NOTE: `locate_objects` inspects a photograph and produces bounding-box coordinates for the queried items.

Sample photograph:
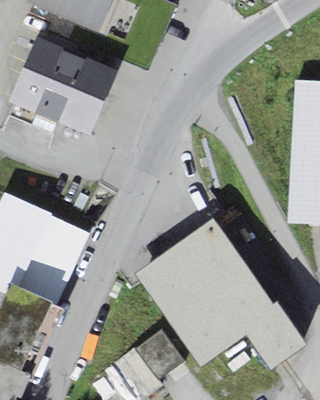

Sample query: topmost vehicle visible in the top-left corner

[22,16,47,30]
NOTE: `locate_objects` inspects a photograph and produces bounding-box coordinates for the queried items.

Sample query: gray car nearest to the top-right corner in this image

[168,25,188,40]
